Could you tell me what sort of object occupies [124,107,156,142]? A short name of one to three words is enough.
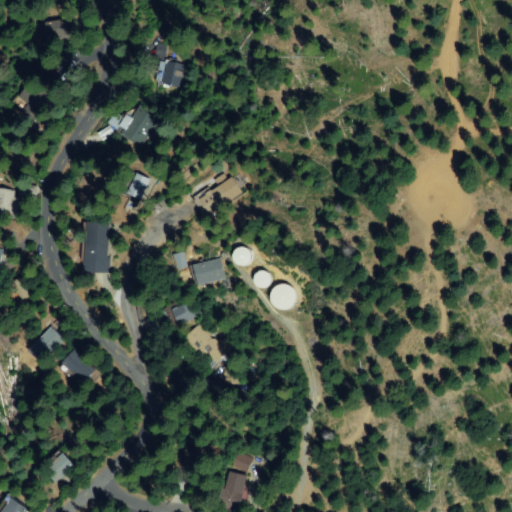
house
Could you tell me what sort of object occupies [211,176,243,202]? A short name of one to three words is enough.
house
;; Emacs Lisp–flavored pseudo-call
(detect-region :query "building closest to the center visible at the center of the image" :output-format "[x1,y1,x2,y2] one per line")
[194,258,226,285]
